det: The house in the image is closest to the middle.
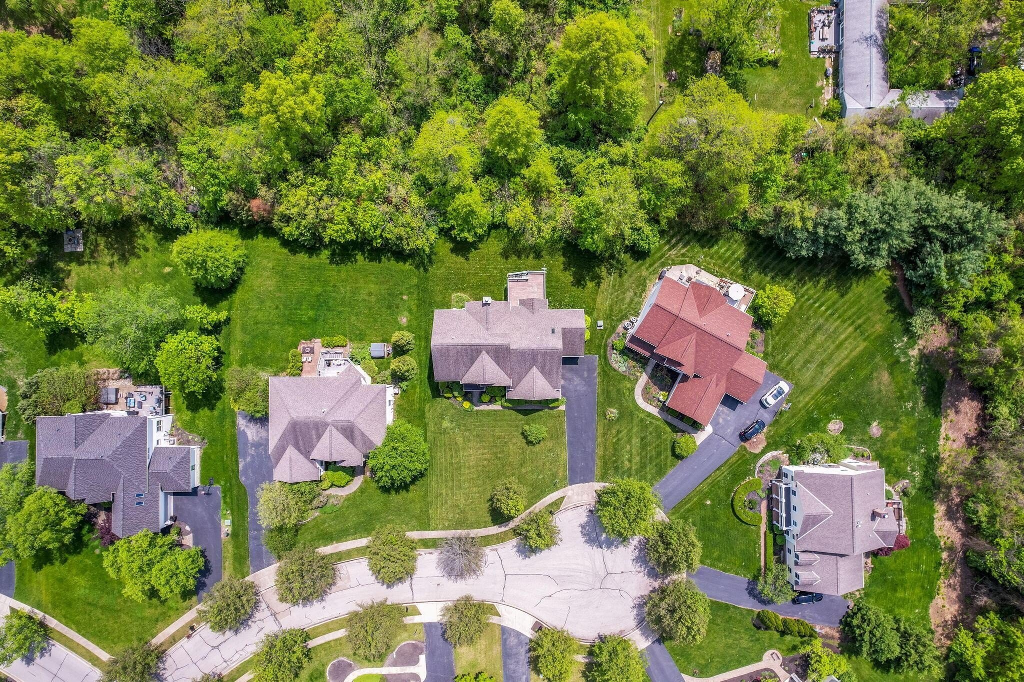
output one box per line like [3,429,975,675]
[431,297,586,401]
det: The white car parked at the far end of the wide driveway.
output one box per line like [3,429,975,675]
[759,379,791,411]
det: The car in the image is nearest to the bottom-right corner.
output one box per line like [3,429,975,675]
[790,591,823,607]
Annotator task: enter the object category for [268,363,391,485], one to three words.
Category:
house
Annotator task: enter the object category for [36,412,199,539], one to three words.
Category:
house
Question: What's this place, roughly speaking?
residential area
